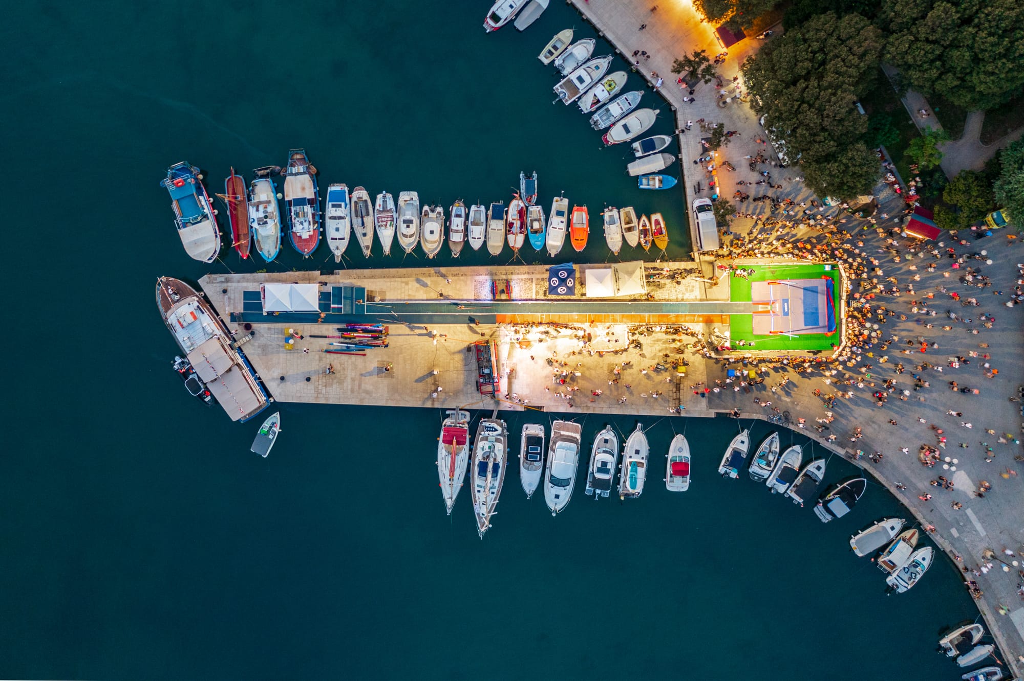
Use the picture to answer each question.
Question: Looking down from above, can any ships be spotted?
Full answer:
Yes, you can see a ship in this photo.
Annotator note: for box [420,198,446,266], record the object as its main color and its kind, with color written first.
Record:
white boat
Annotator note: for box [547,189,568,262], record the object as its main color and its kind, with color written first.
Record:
white boat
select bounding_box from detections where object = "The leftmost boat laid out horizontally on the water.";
[251,163,282,175]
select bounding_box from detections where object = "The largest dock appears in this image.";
[198,261,730,415]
